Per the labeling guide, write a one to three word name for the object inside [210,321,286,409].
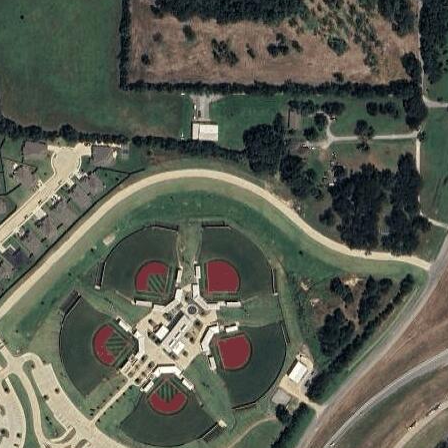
baseball field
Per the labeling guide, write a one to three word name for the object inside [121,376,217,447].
baseball field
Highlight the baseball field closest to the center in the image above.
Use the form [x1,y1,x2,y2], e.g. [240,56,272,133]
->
[200,227,275,303]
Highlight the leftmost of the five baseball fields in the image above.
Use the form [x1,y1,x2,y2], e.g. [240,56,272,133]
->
[60,298,138,396]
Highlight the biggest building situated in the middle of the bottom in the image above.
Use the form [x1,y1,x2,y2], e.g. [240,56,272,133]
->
[162,314,193,348]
